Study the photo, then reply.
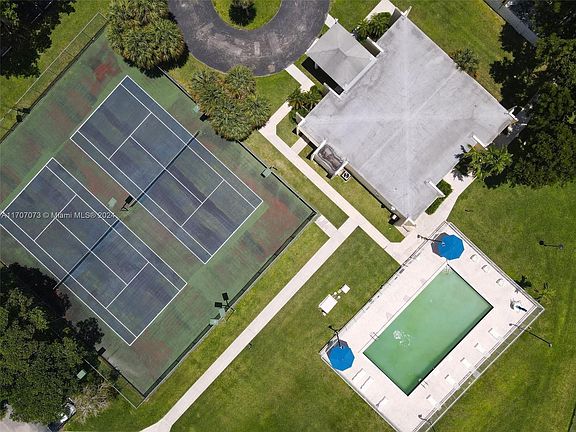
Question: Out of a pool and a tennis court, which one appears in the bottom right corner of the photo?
pool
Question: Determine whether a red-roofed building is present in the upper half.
No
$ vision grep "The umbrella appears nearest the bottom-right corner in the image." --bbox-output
[437,233,464,260]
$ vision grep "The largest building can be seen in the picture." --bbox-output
[295,6,519,227]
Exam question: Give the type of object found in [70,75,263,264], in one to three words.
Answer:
tennis court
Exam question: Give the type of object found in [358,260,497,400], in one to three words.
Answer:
swimming pool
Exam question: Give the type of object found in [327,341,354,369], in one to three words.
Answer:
umbrella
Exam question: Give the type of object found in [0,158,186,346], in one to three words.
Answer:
tennis court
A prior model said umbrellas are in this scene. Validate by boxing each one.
[327,341,354,369]
[437,233,464,260]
